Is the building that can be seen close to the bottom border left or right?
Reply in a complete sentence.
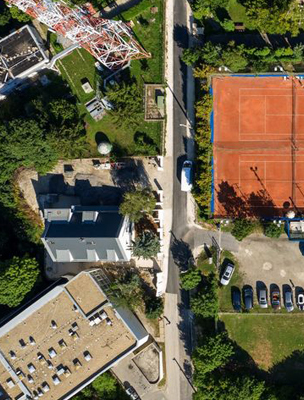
The building that can be seen close to the bottom border is on the left side of the image.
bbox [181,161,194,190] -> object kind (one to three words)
vehicle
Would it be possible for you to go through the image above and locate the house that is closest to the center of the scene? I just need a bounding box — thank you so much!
[39,208,136,262]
